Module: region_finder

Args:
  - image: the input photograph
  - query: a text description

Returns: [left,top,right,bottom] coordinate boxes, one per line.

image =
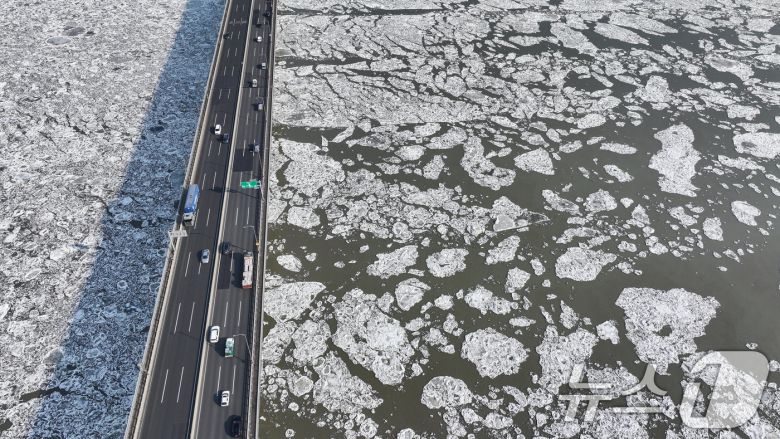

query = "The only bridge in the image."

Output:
[122,0,277,439]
